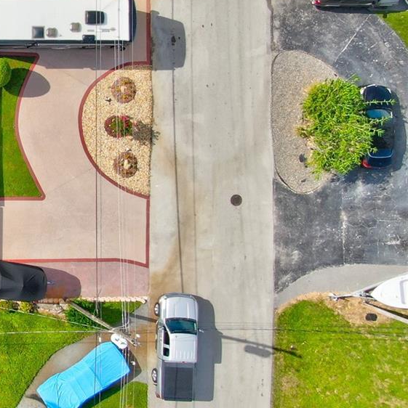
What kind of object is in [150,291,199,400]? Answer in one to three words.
truck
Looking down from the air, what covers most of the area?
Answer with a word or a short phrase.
paved ground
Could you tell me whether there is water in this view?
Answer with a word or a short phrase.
No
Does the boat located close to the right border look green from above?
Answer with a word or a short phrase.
No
